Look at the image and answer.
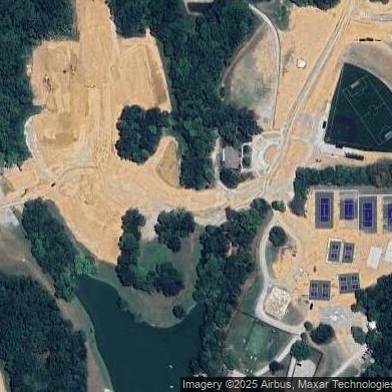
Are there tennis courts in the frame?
Yes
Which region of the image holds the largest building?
center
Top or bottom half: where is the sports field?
top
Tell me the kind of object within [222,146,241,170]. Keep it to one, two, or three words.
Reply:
building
